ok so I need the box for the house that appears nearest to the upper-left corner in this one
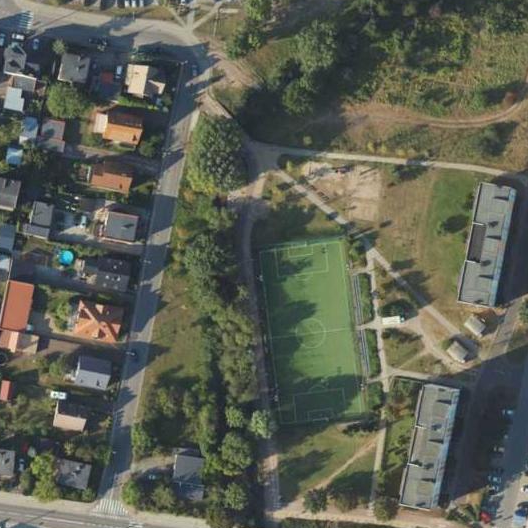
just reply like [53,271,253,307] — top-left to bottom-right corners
[4,45,40,76]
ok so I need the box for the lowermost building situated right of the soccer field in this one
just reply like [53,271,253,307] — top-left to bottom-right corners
[398,384,460,510]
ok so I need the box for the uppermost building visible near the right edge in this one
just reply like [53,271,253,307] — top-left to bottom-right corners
[456,183,516,307]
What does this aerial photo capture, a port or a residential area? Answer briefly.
residential area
